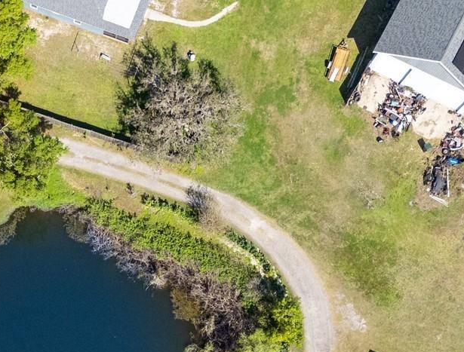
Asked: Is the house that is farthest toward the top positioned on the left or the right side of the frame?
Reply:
left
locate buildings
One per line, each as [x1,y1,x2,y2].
[22,0,153,55]
[359,0,464,120]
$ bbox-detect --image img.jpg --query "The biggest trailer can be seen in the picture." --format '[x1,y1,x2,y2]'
[323,34,352,80]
